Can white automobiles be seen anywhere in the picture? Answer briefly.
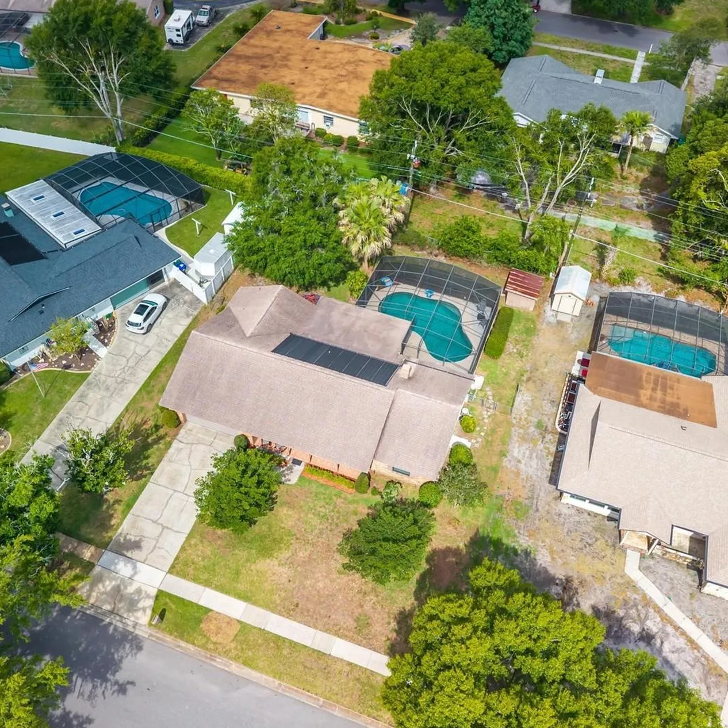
Yes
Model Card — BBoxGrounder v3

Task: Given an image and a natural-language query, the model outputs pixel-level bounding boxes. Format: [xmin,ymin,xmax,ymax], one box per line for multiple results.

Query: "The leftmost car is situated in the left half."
[126,292,166,333]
